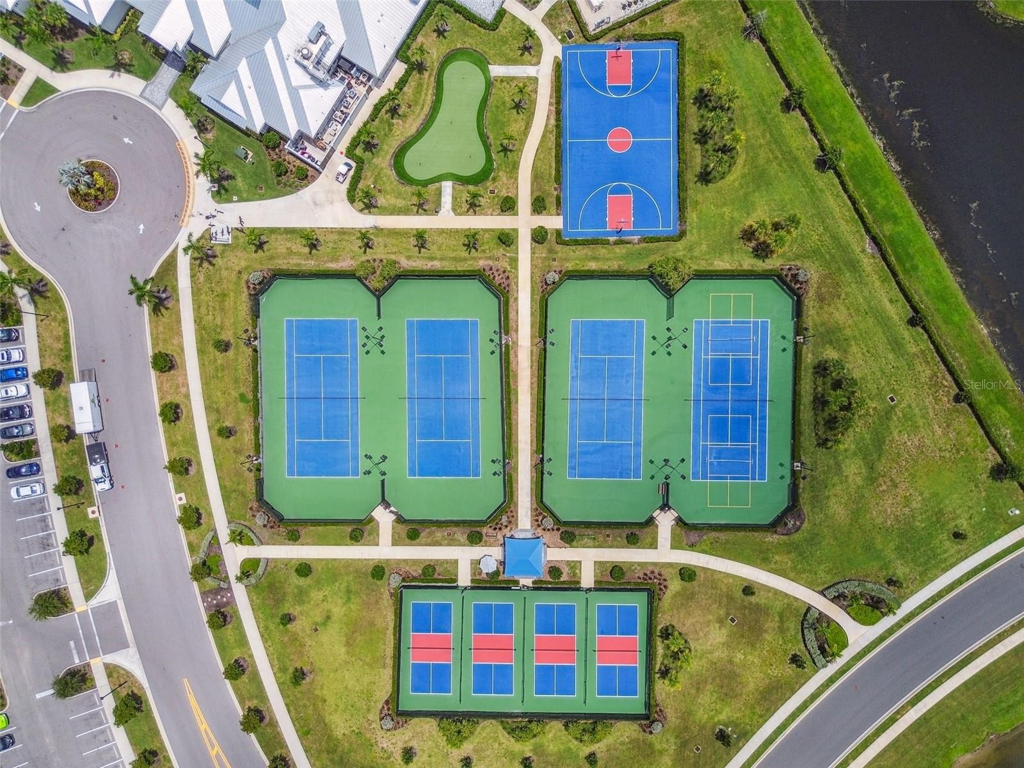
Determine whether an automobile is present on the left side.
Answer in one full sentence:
Yes, looking on the left side, one can make out an automobile.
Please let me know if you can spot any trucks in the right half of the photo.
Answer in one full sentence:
No, no truck can be made out in the right half of the photo.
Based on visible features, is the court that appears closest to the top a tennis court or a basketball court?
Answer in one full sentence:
The court that appears closest to the top in the image is a basketball court.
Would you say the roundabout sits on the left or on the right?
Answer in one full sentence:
The roundabout is on the left side of the image.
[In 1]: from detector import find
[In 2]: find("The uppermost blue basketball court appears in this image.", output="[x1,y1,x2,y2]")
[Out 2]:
[562,42,679,238]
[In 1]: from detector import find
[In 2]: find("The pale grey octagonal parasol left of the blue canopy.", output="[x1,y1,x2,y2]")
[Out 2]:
[480,554,497,571]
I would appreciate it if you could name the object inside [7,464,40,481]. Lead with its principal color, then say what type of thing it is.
blue car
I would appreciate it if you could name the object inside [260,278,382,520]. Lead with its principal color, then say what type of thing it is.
green tennis court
